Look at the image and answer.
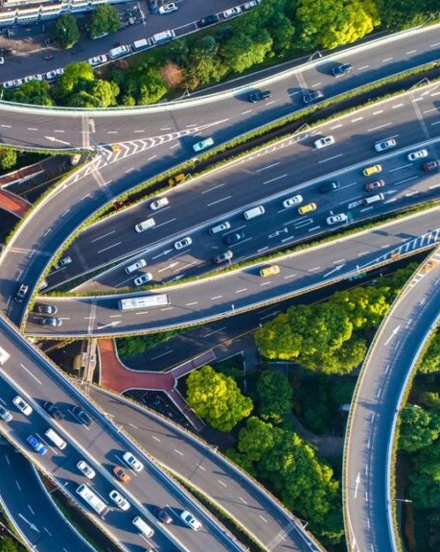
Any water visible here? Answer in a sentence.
No, no water is visible.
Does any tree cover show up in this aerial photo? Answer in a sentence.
Yes, tree cover can be seen from above here.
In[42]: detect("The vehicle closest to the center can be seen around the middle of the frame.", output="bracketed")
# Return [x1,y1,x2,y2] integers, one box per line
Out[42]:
[213,251,232,263]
